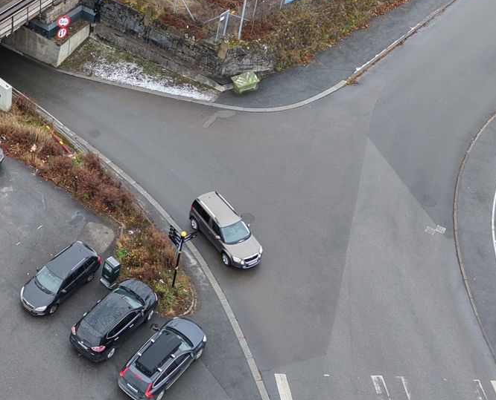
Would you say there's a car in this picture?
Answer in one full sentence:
Yes, I can see a car in this picture.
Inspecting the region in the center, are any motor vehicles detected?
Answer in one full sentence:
Yes, you'll find a motor vehicle in the center.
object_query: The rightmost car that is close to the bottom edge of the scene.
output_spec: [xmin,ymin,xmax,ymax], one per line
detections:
[114,314,211,400]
